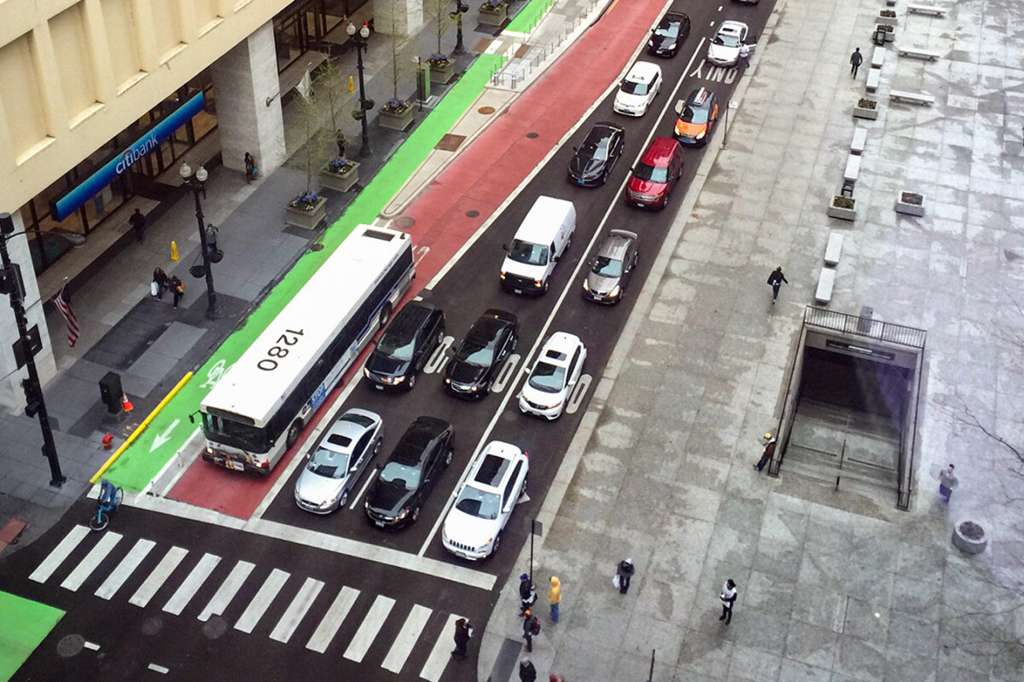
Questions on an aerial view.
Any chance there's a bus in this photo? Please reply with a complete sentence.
Yes, the photo shows a bus.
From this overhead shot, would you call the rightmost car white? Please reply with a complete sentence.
Yes, the rightmost car is indeed white.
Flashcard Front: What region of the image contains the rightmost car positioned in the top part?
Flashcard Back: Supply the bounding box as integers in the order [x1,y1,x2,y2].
[707,21,761,67]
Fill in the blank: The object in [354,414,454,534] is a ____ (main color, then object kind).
black car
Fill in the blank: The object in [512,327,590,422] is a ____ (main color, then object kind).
white car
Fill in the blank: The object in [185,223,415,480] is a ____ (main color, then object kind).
white bus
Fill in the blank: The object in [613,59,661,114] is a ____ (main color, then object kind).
white car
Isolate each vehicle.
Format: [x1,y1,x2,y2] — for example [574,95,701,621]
[644,13,687,56]
[359,295,448,395]
[185,223,415,480]
[494,197,575,298]
[512,327,590,422]
[659,92,720,149]
[707,21,761,67]
[578,227,640,306]
[283,405,382,517]
[613,59,661,114]
[566,125,624,187]
[434,309,516,404]
[623,137,684,211]
[354,414,454,534]
[436,442,530,565]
